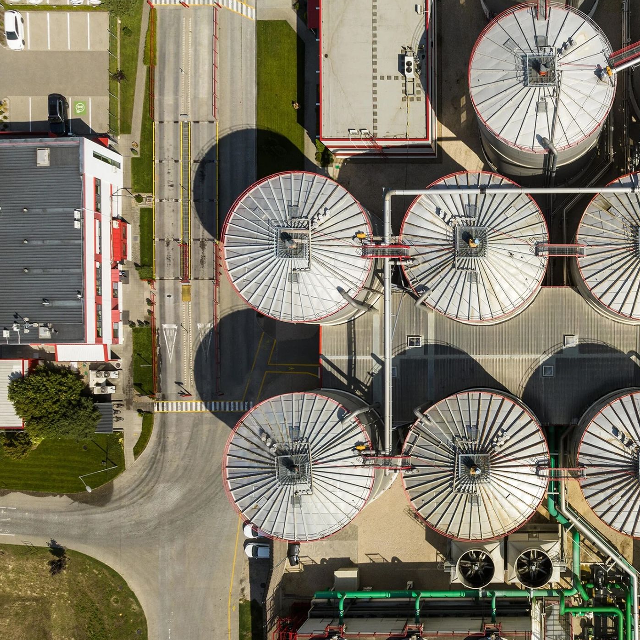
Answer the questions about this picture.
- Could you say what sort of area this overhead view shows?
industrial area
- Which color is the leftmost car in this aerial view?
white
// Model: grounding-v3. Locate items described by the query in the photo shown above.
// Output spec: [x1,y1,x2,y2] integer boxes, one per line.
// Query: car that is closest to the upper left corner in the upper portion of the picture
[0,8,23,47]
